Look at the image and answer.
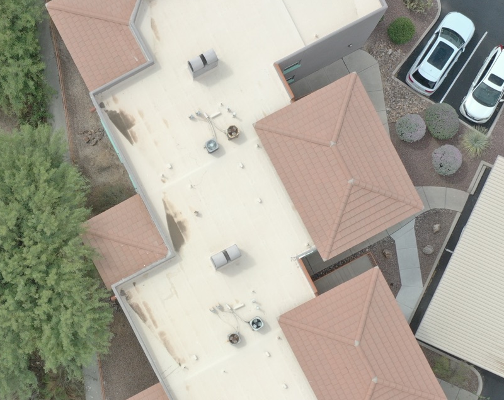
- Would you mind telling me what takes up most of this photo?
buildings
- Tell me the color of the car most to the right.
white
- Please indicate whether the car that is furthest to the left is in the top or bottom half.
top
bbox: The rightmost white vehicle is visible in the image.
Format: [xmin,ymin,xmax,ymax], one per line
[459,45,504,129]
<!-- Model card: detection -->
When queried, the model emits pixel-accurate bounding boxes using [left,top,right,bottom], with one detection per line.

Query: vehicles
[404,12,472,103]
[459,45,504,129]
